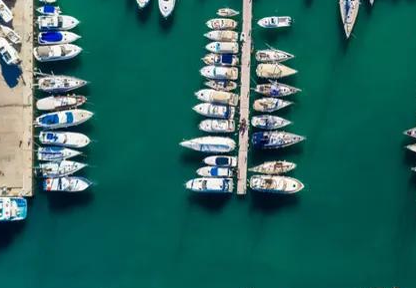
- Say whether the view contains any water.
Yes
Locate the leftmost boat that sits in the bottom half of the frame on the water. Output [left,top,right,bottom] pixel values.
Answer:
[0,197,30,221]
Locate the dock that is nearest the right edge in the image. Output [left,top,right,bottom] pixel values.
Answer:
[234,0,253,193]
